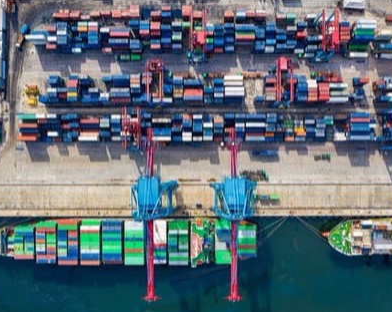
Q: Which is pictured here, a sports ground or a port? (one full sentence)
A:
This image shows a port.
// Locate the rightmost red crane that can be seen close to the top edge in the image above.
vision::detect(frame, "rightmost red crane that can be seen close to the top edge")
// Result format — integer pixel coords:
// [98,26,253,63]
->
[310,8,338,66]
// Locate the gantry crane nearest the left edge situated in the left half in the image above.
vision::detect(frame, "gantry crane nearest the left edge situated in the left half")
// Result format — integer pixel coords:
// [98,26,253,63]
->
[122,106,147,154]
